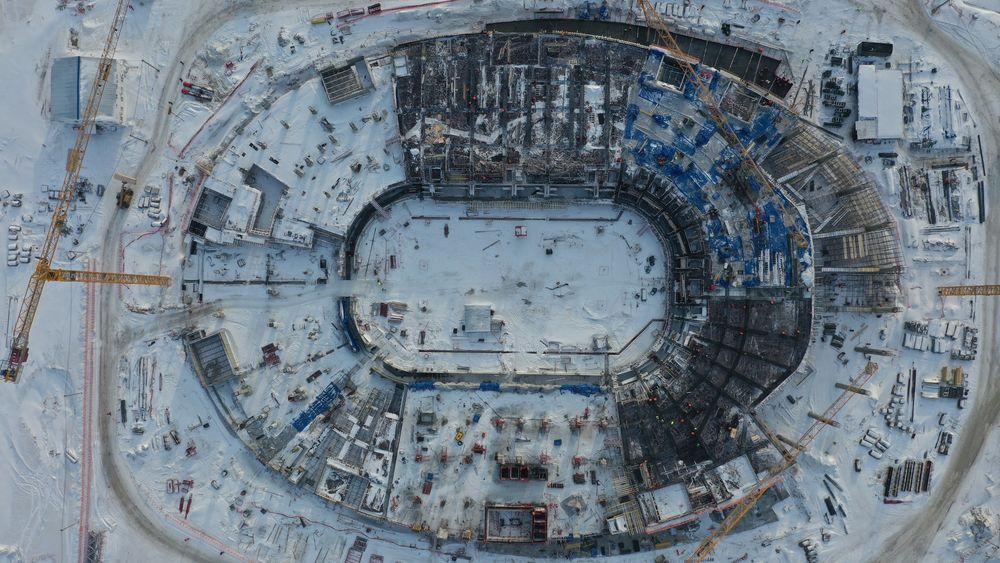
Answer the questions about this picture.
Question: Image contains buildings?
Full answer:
Yes, looking at the shot, I can spot a building.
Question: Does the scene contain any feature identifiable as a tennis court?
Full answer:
No, the scene contains no tennis court.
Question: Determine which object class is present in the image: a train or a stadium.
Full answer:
It is a stadium that can be seen here.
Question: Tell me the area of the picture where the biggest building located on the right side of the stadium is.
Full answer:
Look in the top right portion of the view to spot the biggest building located on the right side of the stadium.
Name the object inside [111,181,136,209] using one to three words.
work vehicle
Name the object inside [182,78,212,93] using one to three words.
vehicle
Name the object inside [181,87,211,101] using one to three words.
vehicle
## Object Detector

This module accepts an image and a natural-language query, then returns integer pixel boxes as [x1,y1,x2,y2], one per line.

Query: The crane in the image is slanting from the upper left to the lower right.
[637,0,812,250]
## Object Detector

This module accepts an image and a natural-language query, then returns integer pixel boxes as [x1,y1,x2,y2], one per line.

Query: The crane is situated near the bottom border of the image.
[683,358,877,563]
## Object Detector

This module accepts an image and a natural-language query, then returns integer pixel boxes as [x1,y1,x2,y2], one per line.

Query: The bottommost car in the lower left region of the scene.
[208,478,222,491]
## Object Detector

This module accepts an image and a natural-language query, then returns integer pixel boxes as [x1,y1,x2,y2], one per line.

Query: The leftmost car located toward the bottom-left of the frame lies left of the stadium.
[62,446,76,459]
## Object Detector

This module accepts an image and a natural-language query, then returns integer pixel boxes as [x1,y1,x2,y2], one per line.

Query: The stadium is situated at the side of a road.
[179,33,823,560]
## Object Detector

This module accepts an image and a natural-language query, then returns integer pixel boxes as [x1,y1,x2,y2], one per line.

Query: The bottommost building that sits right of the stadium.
[849,64,903,143]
